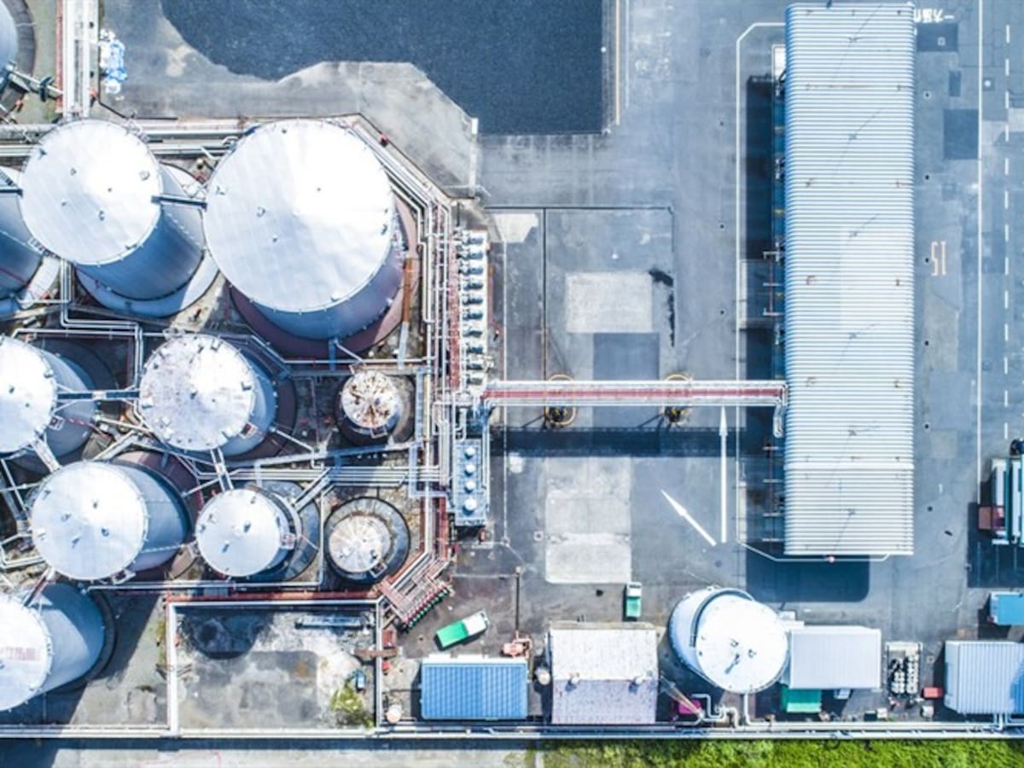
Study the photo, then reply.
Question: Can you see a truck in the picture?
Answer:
Yes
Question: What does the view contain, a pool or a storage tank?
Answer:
storage tank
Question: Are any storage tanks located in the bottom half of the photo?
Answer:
Yes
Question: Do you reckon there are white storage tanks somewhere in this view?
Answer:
Yes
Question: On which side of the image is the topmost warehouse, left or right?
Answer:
right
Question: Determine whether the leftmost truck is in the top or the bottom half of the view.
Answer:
bottom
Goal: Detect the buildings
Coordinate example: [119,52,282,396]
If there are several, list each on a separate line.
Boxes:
[549,620,658,724]
[779,611,882,691]
[418,651,531,720]
[773,0,914,562]
[934,640,1024,714]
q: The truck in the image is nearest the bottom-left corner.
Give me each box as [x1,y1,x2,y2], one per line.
[431,605,492,651]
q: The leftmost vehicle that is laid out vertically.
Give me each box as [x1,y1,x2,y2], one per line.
[623,581,642,620]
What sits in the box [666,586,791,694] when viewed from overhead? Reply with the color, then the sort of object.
white storage tank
